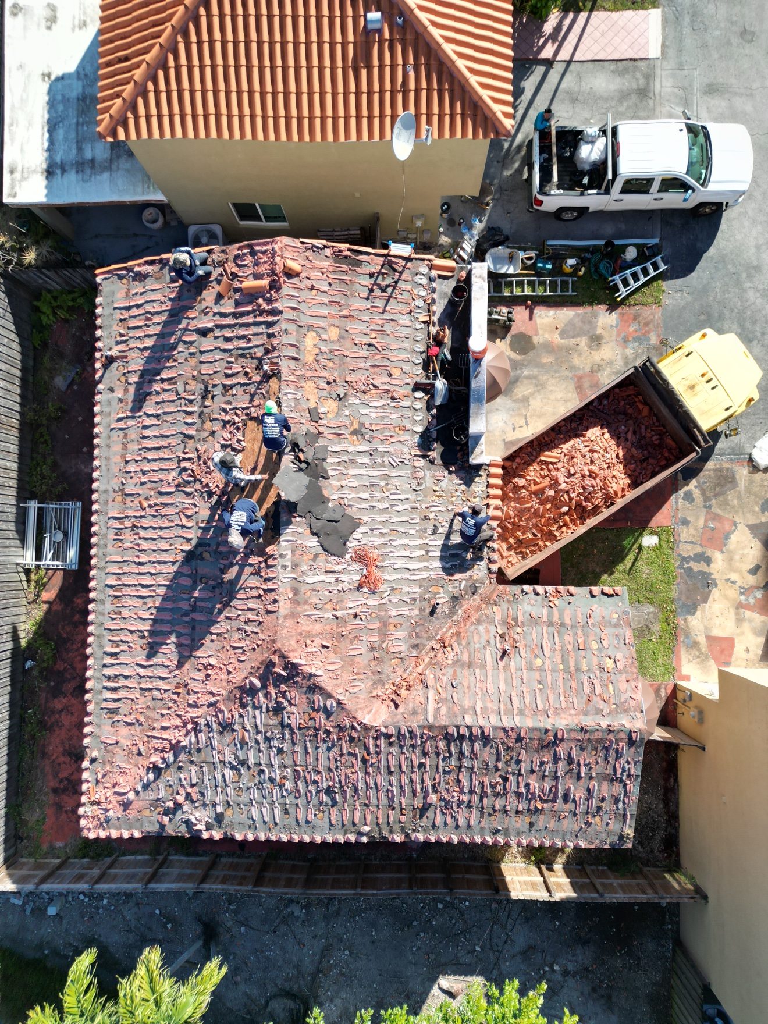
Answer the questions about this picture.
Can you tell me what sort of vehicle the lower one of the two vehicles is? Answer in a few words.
truck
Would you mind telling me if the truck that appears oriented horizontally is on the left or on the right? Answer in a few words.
right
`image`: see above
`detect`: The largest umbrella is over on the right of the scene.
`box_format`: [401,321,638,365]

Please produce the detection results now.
[487,343,521,406]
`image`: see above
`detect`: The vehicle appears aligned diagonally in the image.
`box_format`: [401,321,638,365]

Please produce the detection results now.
[486,328,764,580]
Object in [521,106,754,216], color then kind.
white truck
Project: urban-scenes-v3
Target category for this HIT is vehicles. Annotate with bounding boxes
[521,106,754,216]
[486,328,764,580]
